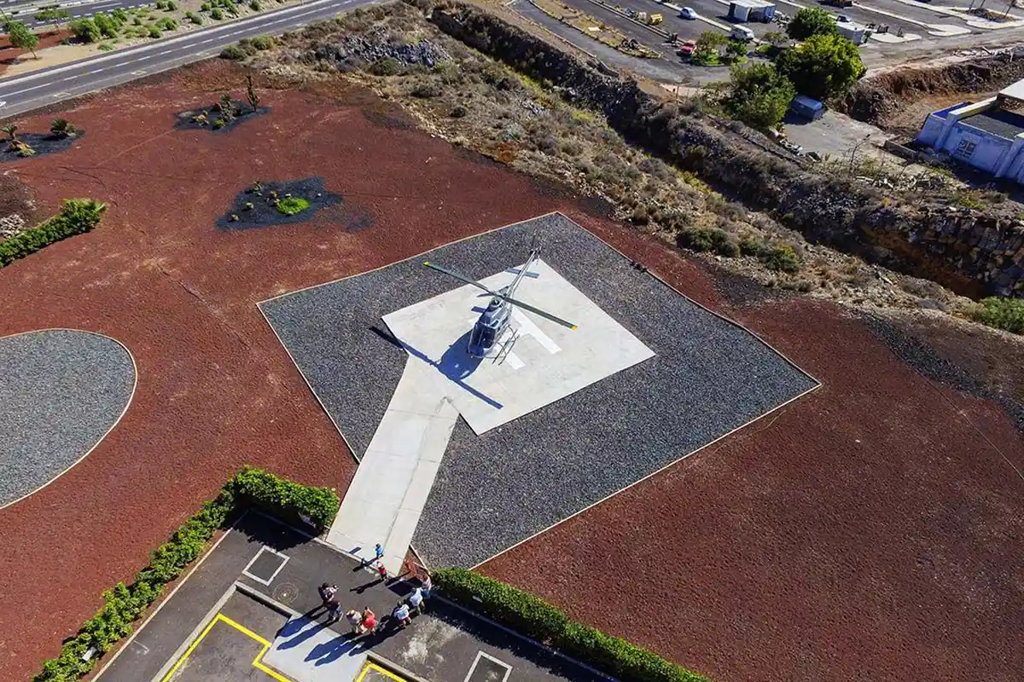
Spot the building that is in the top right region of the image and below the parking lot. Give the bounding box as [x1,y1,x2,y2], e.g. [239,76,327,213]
[918,95,1024,187]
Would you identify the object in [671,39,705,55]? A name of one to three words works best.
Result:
car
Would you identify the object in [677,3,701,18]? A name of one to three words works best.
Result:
car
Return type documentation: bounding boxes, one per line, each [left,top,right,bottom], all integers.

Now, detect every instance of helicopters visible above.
[423,235,575,365]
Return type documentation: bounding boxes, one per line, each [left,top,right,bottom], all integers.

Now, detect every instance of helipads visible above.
[381,259,656,437]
